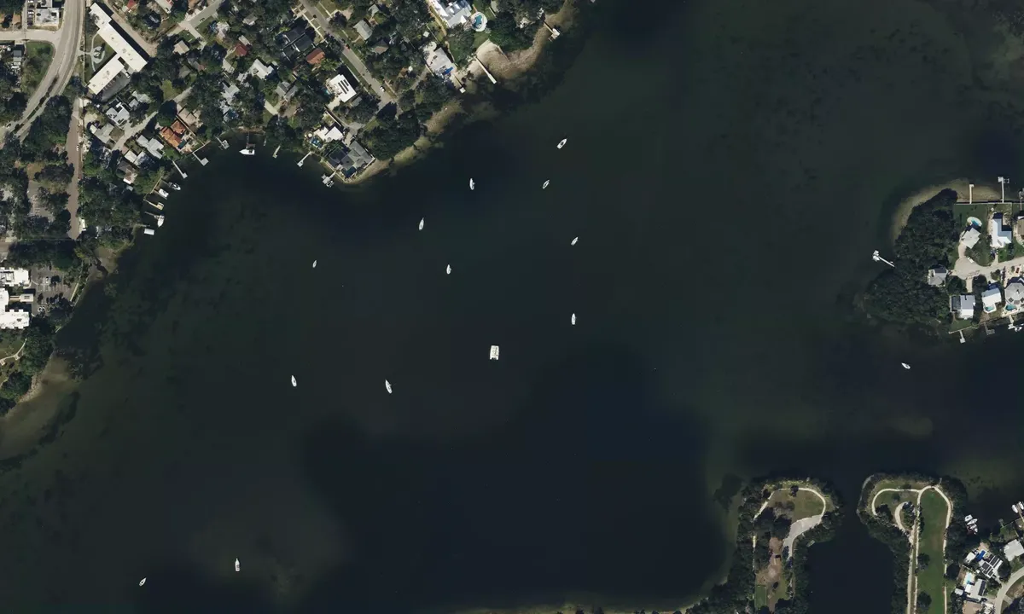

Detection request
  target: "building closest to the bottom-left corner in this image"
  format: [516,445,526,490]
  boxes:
[0,288,29,330]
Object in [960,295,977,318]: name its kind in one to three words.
house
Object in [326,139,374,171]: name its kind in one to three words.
house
